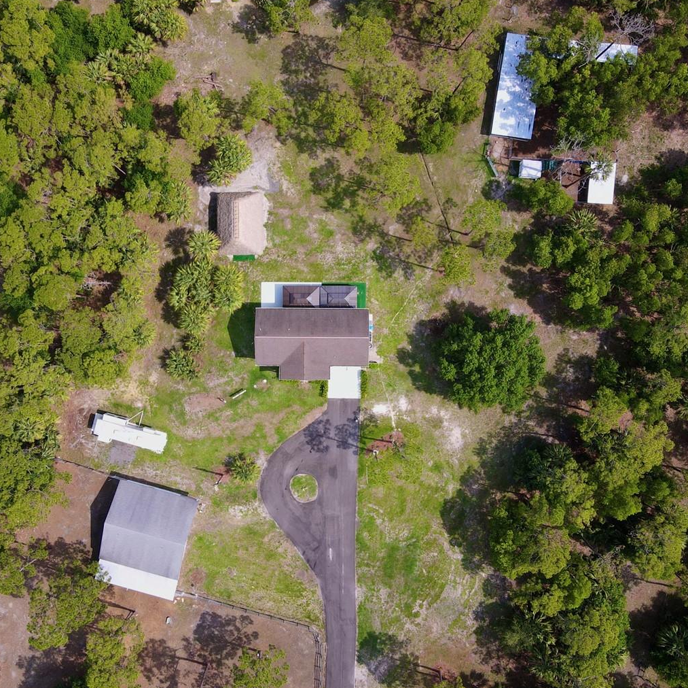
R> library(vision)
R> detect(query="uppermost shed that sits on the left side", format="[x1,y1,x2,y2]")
[217,191,269,256]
